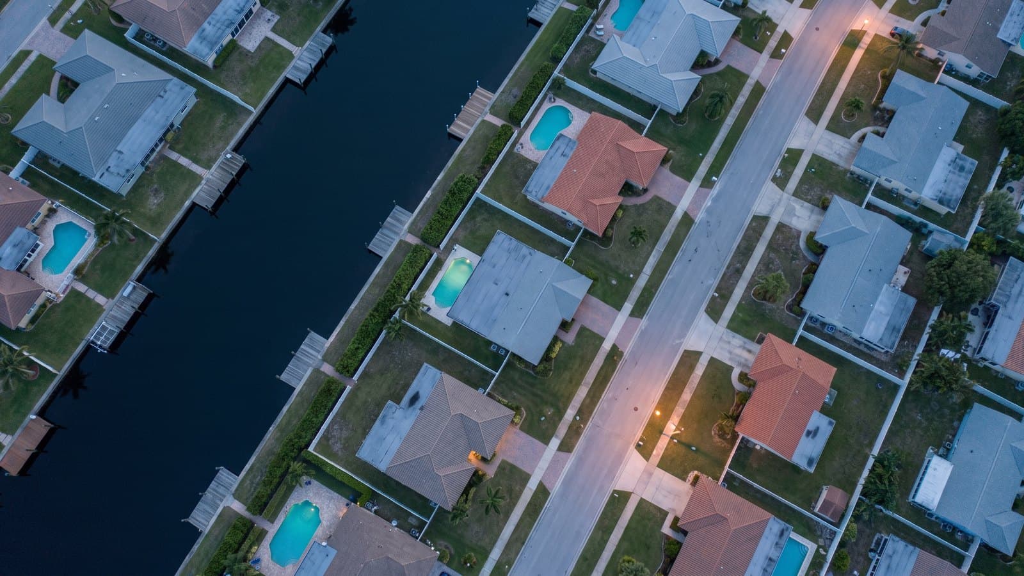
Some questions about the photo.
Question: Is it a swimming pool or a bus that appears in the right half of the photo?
swimming pool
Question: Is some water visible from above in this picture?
Yes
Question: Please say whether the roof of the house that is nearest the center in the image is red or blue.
blue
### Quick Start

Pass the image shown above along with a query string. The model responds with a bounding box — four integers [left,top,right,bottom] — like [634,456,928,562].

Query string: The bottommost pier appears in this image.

[183,465,238,530]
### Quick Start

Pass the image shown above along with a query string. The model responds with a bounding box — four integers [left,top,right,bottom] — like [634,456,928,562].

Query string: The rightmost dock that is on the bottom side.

[277,328,327,388]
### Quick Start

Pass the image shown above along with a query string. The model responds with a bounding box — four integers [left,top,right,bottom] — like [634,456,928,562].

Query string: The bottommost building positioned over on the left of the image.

[292,504,439,576]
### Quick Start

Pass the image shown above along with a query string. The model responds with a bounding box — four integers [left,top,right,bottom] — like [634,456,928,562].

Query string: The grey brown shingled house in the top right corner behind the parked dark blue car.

[913,0,1024,84]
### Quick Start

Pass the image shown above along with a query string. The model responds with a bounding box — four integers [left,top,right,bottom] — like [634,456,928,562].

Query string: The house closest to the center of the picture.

[447,230,594,365]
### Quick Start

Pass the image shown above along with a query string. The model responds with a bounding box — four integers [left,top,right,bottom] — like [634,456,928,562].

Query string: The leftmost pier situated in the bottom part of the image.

[0,415,62,476]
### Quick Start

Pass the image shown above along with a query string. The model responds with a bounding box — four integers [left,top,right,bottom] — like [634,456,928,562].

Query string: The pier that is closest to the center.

[365,201,411,257]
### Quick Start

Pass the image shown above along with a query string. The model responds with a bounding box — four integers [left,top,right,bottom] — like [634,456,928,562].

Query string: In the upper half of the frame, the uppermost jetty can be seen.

[526,0,556,23]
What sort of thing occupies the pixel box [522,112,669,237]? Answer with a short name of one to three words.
house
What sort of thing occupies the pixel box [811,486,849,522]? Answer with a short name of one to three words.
shed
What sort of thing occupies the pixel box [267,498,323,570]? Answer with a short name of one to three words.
swimming pool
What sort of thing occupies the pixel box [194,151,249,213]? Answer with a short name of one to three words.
pier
